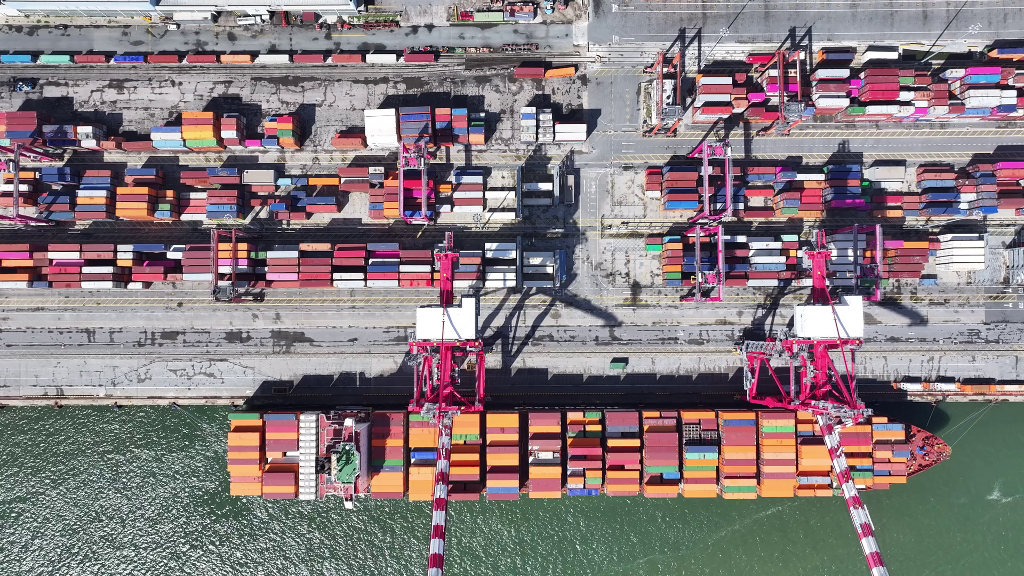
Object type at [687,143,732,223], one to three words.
container crane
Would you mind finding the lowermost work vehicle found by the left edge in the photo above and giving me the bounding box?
[6,77,33,93]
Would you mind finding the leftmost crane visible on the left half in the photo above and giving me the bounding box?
[0,146,57,223]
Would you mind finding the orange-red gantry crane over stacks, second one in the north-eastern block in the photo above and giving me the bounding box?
[756,53,806,136]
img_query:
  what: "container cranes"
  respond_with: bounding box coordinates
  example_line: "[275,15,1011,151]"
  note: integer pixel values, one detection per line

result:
[733,230,887,576]
[827,229,881,302]
[0,146,57,223]
[399,148,435,224]
[211,230,260,303]
[644,52,686,136]
[756,53,806,136]
[680,229,723,302]
[407,229,490,576]
[687,143,732,223]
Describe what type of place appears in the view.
port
